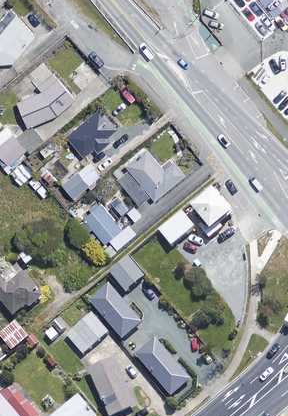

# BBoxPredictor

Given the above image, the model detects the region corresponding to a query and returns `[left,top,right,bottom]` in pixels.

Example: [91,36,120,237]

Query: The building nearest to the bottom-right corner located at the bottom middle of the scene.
[136,338,190,395]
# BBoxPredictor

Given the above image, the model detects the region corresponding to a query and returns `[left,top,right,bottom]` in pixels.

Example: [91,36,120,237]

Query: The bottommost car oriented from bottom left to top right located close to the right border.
[259,367,274,382]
